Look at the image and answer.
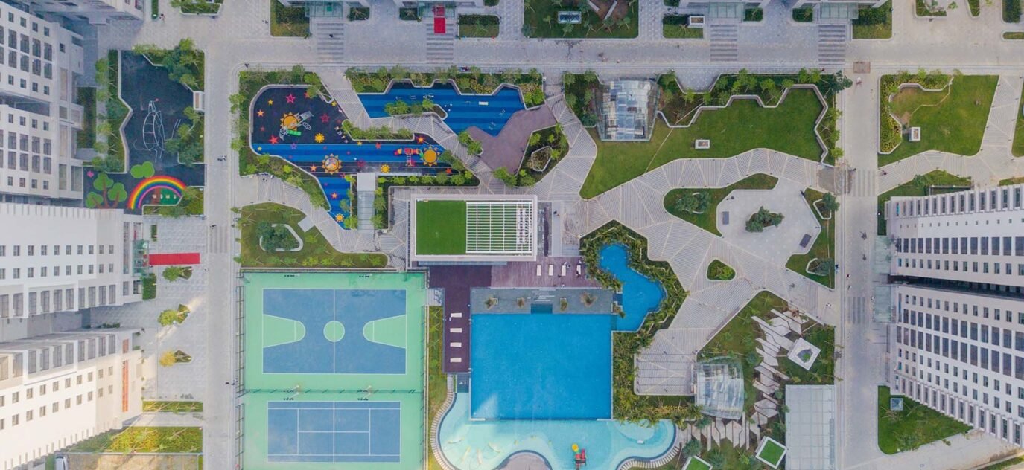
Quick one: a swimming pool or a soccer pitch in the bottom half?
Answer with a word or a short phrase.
swimming pool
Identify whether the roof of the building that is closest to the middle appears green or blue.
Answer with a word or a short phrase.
green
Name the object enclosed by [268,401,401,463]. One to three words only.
tennis court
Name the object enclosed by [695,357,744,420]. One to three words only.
building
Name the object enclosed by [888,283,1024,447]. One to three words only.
building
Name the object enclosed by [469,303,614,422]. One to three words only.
swimming pool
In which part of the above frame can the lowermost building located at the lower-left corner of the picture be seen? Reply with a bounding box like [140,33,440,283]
[0,323,142,470]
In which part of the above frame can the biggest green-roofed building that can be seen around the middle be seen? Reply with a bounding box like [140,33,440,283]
[411,195,537,265]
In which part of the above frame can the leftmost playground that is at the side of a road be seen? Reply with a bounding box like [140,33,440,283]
[83,50,204,216]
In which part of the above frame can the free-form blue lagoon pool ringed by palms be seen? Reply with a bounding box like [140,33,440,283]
[599,243,667,332]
